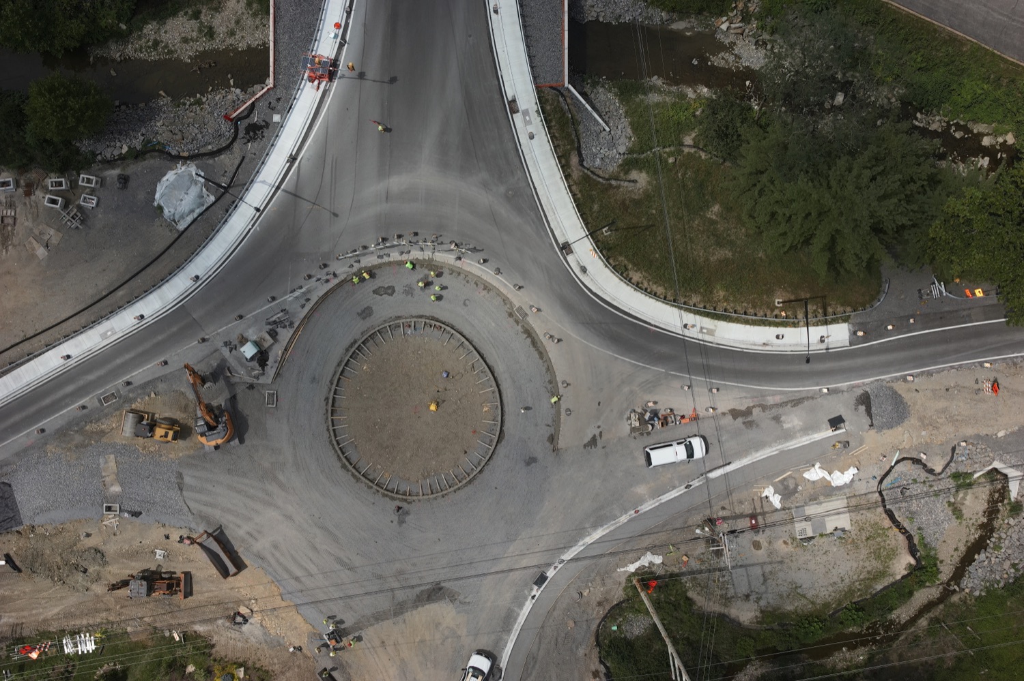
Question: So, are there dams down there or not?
No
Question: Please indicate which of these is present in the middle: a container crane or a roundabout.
roundabout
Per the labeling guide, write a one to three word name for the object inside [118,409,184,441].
work vehicle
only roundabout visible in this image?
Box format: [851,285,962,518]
[268,251,568,557]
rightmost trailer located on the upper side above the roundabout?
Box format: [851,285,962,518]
[297,55,358,92]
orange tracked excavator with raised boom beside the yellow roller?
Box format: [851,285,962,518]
[180,364,238,451]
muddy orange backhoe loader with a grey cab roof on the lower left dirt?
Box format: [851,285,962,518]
[94,572,189,604]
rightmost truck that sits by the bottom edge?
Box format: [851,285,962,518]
[462,650,491,681]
